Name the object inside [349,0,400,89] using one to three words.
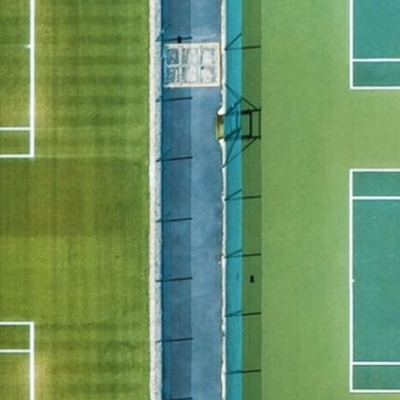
tennis court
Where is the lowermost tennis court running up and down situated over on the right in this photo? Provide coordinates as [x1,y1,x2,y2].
[349,168,400,393]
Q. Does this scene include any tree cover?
No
